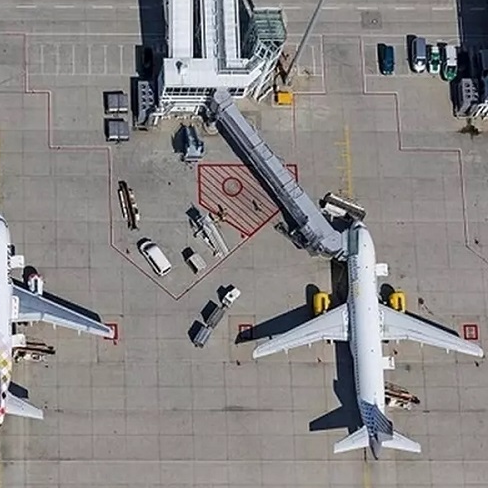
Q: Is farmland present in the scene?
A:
No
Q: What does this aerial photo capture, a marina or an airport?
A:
airport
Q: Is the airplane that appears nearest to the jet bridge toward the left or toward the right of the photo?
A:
right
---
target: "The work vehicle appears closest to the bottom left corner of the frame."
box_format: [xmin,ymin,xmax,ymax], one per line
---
[16,345,56,369]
